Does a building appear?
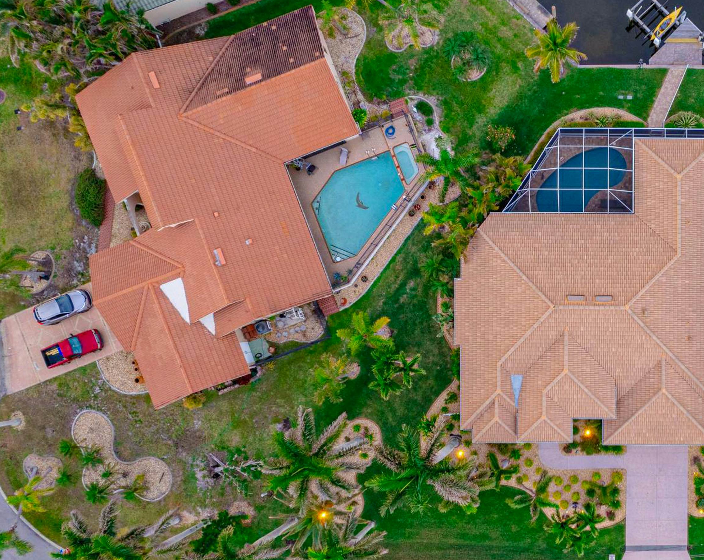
Yes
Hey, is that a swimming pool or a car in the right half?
swimming pool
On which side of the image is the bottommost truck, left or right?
left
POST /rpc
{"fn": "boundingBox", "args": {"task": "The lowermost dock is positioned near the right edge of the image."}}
[649,18,703,64]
